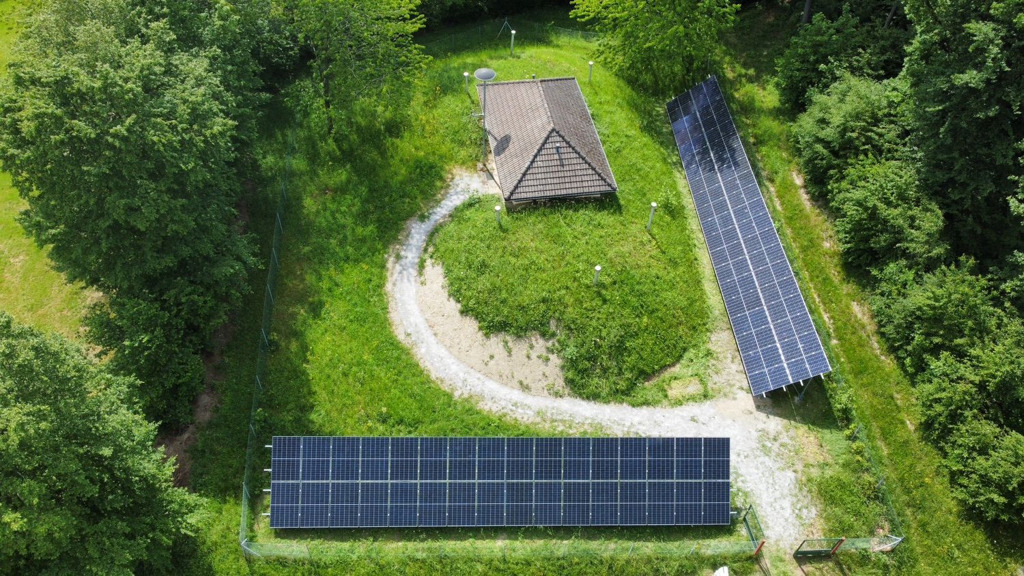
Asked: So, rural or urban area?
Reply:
rural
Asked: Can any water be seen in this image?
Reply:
No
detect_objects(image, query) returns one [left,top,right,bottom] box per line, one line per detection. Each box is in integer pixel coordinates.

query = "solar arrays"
[666,77,830,401]
[261,438,736,527]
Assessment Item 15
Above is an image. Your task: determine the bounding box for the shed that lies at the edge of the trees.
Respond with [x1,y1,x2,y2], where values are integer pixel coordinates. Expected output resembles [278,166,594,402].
[477,68,620,211]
